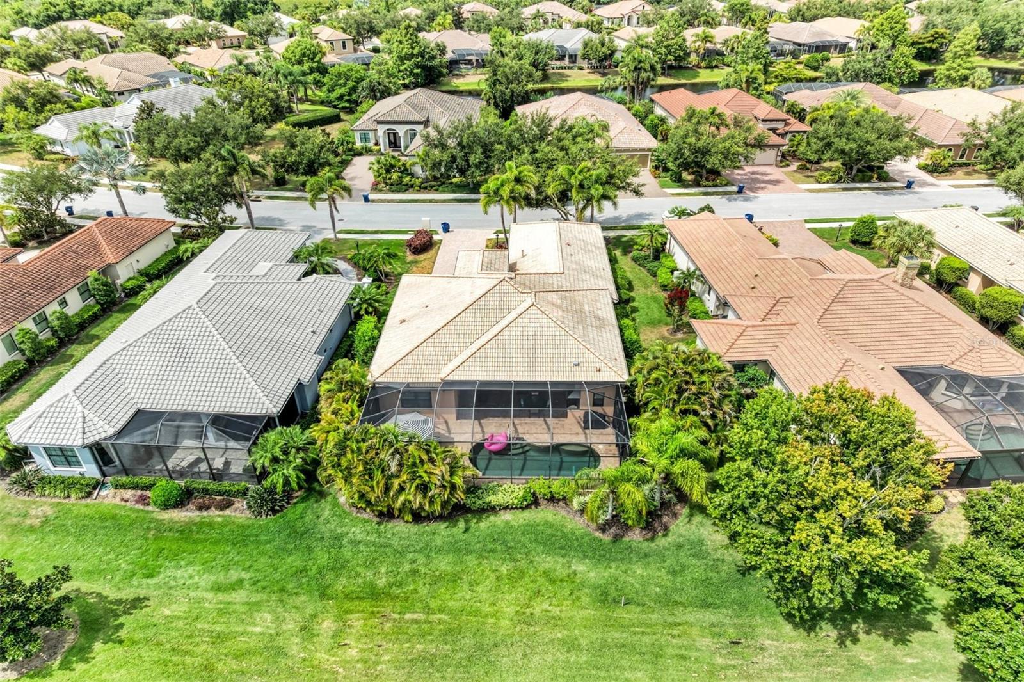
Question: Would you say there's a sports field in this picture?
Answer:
No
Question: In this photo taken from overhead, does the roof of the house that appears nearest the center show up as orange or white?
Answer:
white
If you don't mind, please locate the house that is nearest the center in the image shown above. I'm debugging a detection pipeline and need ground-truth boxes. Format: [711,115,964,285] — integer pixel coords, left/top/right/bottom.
[368,220,629,412]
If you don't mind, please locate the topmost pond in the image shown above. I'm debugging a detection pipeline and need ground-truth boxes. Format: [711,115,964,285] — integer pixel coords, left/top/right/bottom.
[359,68,1024,108]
